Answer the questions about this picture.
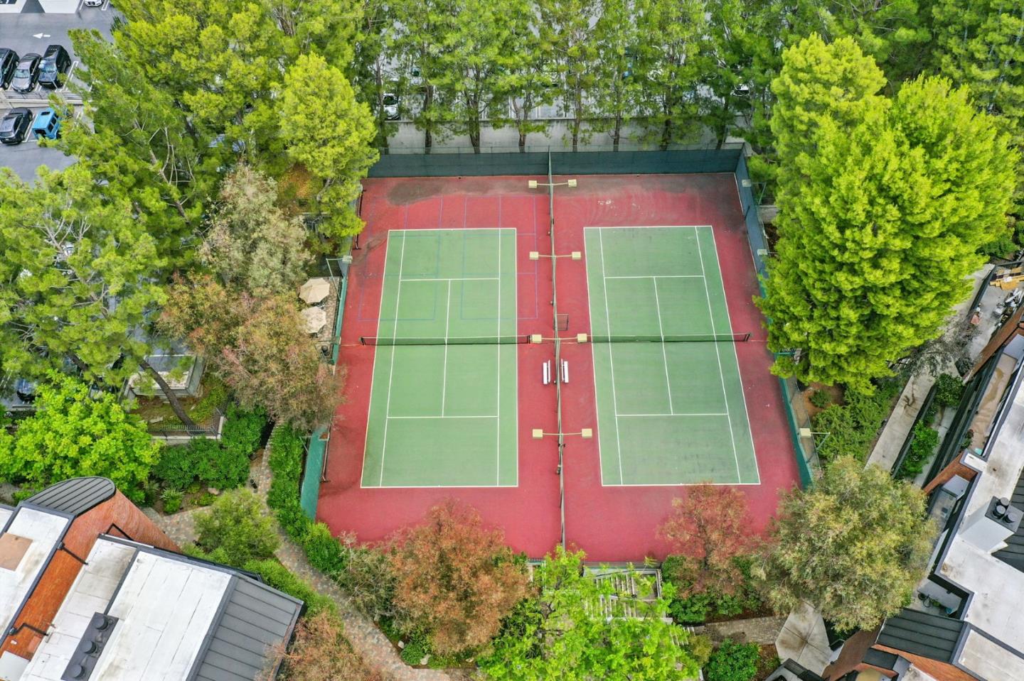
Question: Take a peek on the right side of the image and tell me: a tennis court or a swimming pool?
tennis court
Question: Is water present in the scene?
No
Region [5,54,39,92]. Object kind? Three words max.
car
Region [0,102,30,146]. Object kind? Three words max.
car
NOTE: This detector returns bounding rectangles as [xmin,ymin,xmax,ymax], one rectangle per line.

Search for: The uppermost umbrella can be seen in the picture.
[299,279,331,311]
